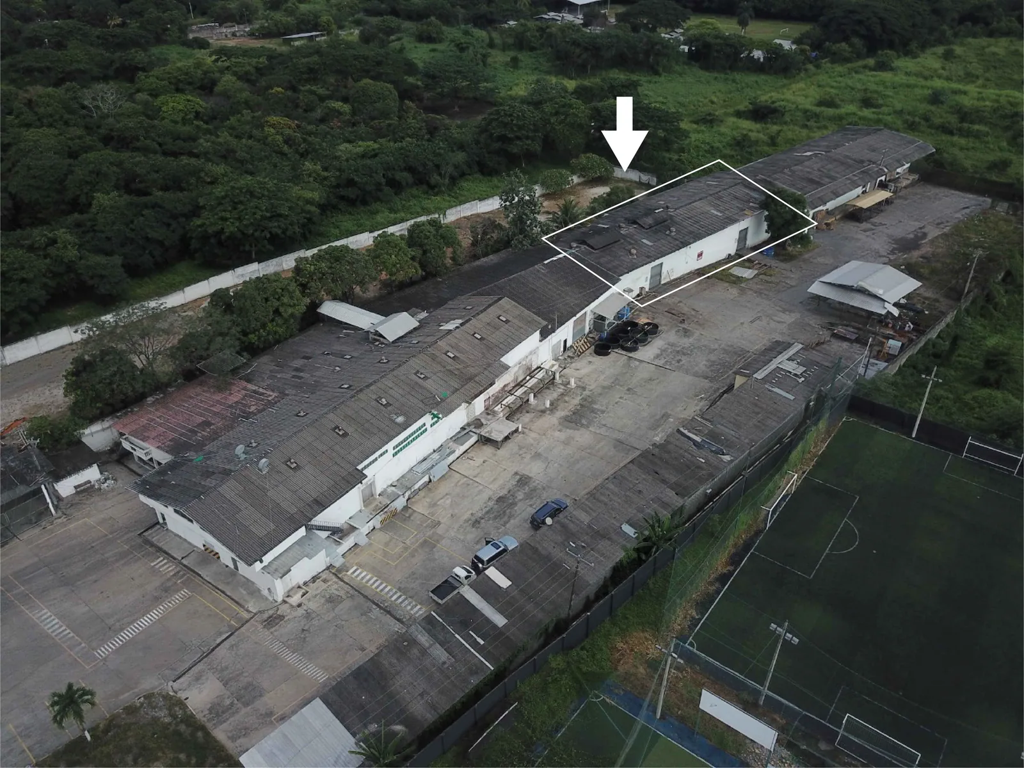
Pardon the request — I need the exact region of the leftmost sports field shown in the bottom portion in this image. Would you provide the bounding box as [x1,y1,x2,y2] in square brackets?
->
[535,693,713,768]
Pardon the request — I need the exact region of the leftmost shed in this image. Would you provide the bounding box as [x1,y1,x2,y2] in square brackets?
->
[0,444,56,510]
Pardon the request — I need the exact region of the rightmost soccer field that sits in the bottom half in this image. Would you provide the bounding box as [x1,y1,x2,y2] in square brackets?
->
[691,417,1024,768]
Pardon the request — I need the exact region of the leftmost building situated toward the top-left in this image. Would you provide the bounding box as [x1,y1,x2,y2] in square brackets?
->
[189,18,252,40]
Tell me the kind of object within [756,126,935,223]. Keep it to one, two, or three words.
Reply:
building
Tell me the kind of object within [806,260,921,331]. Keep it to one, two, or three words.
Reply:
shed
